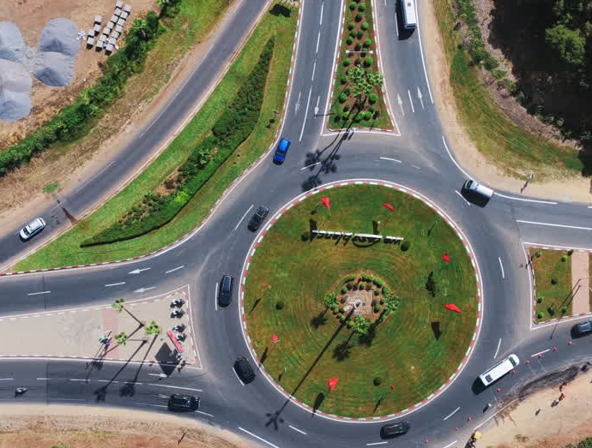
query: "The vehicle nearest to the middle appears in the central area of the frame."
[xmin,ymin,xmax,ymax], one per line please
[248,206,268,233]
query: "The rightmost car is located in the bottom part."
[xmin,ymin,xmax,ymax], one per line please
[572,319,592,337]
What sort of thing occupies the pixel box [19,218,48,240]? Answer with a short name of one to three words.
car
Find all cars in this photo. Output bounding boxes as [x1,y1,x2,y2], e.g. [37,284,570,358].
[380,421,409,437]
[19,218,48,240]
[572,319,592,337]
[169,397,199,409]
[248,206,268,233]
[235,356,254,384]
[273,137,291,165]
[220,274,232,307]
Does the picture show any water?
No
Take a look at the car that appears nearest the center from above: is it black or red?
black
